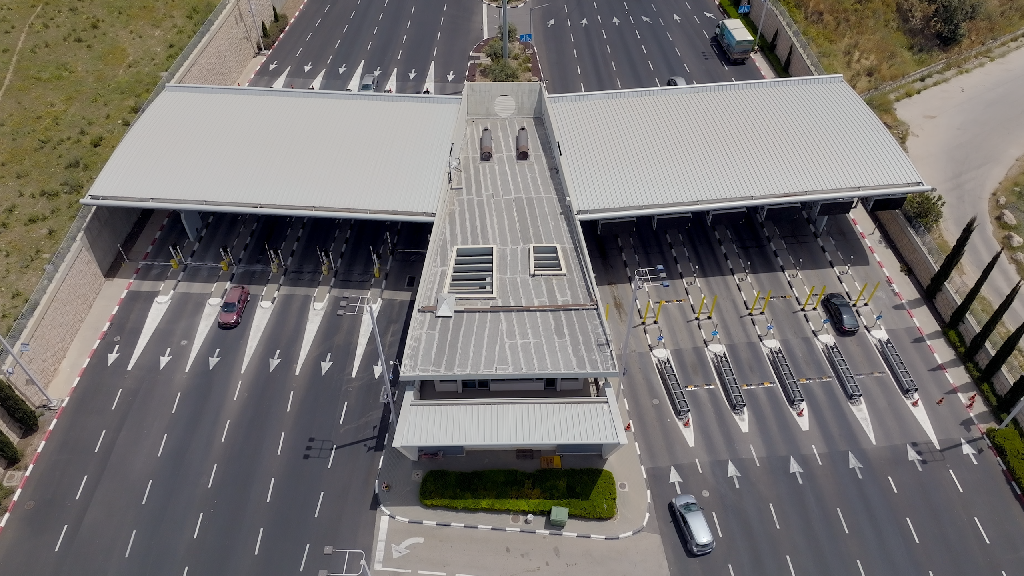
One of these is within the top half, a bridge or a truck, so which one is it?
truck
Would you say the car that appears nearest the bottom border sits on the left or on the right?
right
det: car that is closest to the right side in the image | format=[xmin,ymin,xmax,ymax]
[824,295,864,338]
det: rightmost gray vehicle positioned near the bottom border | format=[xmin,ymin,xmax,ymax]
[675,493,716,557]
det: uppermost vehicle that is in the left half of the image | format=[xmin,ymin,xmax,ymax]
[359,74,377,91]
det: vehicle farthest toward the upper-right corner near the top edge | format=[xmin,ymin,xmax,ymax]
[715,17,755,62]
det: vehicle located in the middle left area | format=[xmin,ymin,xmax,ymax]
[221,283,254,329]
